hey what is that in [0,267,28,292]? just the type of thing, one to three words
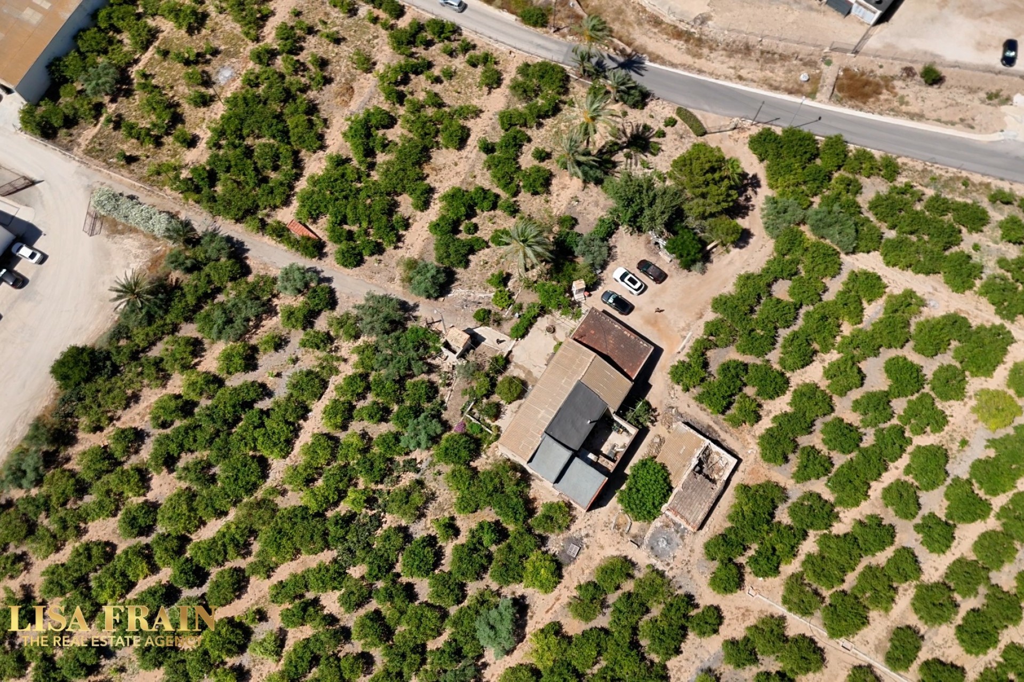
car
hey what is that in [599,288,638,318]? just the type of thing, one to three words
car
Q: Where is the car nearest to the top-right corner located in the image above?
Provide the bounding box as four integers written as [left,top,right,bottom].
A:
[998,39,1018,67]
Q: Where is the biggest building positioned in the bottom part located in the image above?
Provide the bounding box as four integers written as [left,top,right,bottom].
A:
[497,307,655,514]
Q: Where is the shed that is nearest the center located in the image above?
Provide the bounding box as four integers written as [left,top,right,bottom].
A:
[438,325,472,361]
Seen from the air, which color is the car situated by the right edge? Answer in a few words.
black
